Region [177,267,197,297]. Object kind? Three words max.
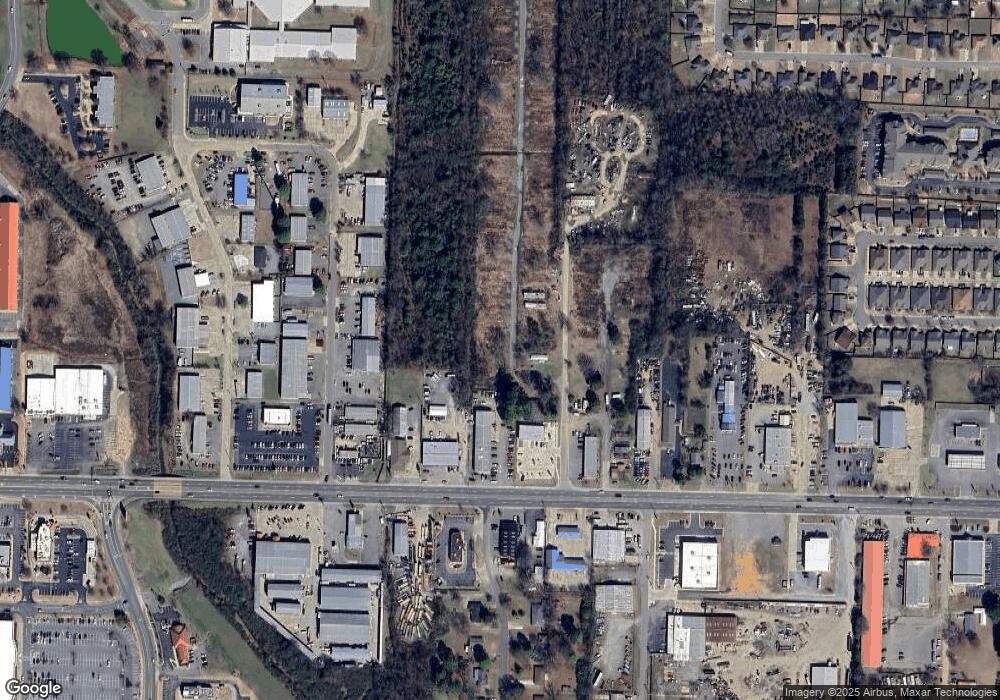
building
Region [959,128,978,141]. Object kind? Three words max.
swimming pool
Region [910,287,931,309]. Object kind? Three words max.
house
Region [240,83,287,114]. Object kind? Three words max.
building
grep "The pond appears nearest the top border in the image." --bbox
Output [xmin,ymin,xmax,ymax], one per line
[47,0,121,65]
